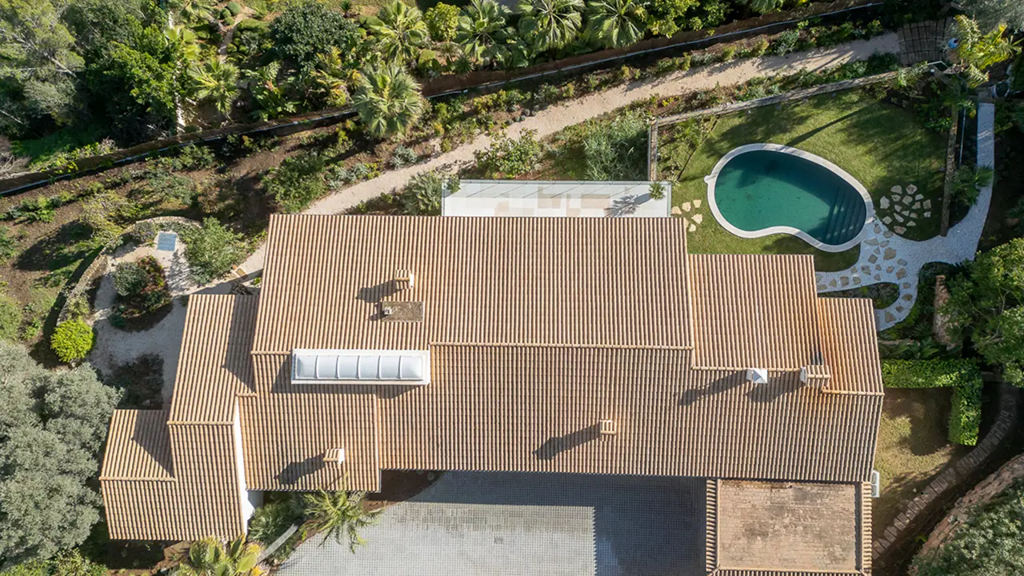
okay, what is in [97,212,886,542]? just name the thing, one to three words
house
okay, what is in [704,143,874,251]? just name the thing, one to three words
swimming pool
